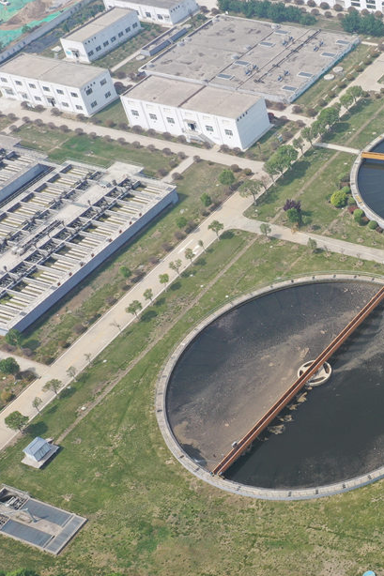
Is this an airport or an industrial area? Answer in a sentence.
What you see here is an industrial area.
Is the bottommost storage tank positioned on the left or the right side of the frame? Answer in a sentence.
The bottommost storage tank appears in the right half of the scene.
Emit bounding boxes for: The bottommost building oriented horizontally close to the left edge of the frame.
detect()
[0,50,121,115]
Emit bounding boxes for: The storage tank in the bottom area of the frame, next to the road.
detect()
[155,271,384,500]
